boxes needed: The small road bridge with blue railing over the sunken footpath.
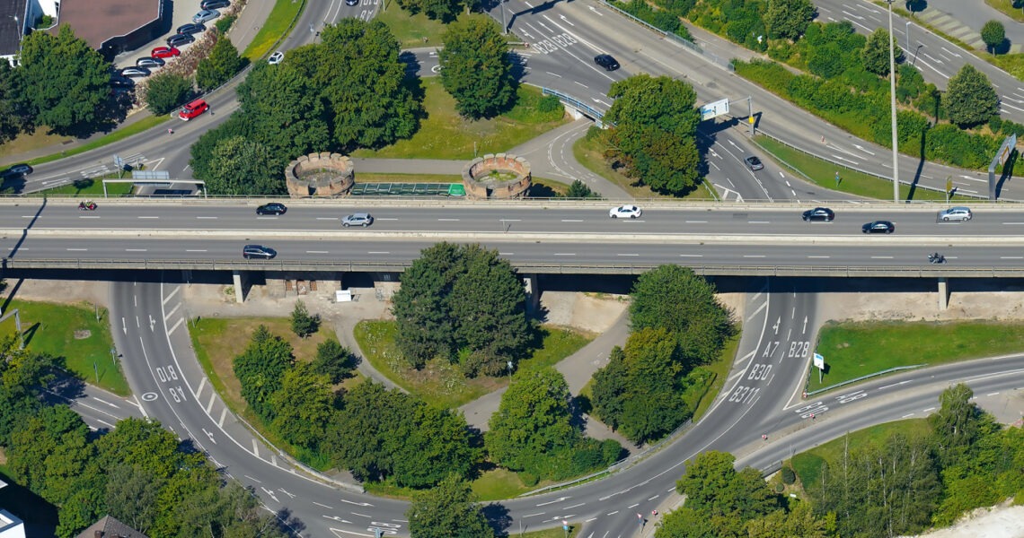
[538,85,611,138]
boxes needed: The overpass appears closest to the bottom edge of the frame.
[0,192,1024,311]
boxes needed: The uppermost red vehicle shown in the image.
[153,46,180,58]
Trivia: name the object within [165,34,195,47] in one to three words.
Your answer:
vehicle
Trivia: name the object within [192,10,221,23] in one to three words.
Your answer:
vehicle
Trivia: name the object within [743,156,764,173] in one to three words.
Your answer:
car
